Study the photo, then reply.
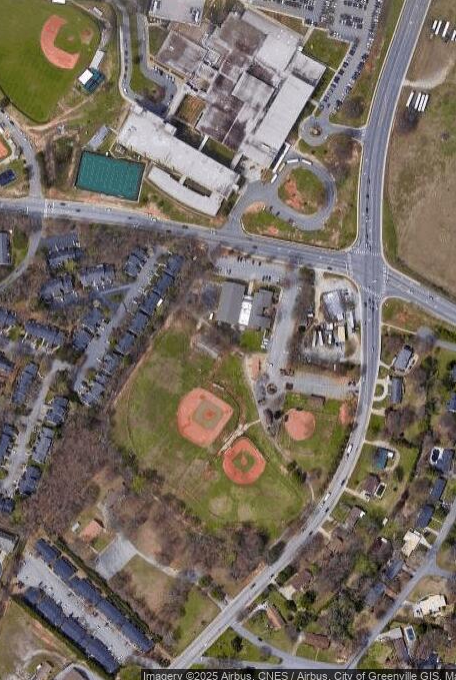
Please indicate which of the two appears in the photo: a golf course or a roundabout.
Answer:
roundabout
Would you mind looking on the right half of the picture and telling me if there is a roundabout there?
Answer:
Yes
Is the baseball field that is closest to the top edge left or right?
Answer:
left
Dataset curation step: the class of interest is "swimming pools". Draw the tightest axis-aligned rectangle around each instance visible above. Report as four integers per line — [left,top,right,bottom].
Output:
[430,446,441,464]
[375,483,387,498]
[403,624,417,644]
